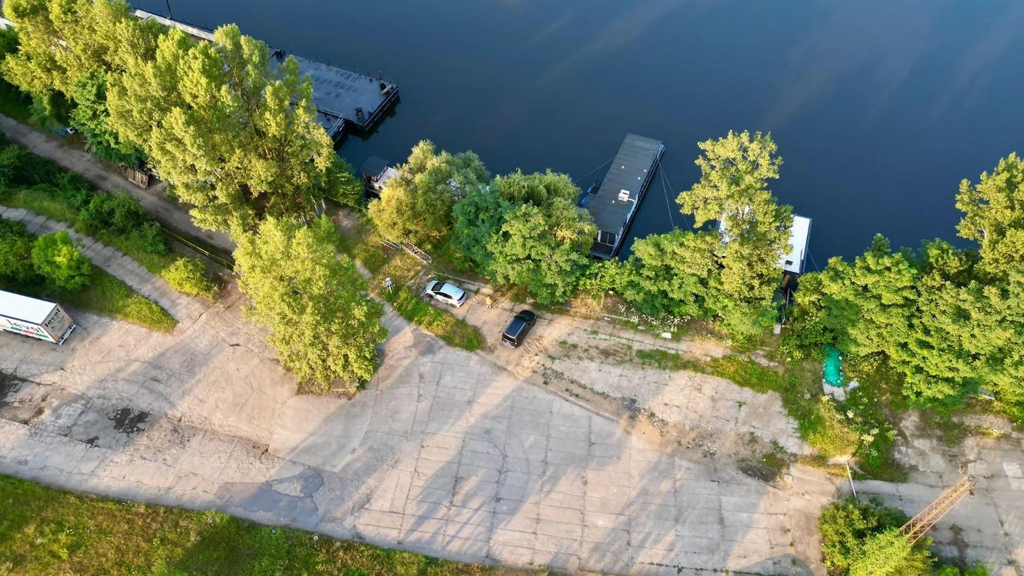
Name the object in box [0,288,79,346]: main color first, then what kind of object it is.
white truck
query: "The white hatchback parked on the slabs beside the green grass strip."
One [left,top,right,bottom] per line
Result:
[422,276,470,307]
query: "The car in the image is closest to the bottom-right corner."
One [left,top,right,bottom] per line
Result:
[499,302,540,347]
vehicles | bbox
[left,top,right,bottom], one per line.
[0,288,79,346]
[499,302,540,347]
[422,276,470,307]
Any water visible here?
Yes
